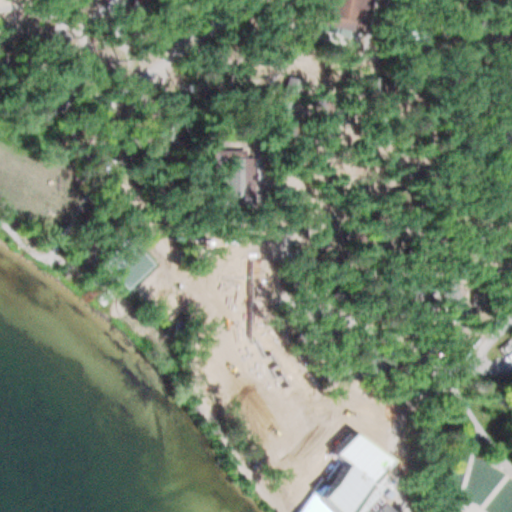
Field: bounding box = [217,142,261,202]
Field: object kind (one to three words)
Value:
house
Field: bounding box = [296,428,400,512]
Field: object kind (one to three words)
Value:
building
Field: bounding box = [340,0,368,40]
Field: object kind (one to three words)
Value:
house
